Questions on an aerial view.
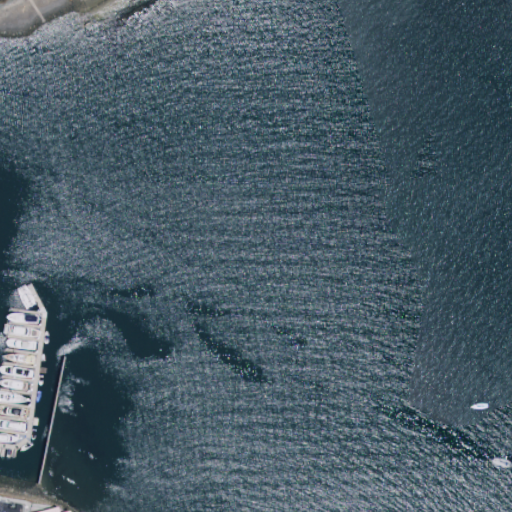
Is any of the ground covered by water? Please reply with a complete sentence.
Yes, water shows up in the scene.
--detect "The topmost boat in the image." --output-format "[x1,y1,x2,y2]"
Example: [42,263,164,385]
[18,286,36,310]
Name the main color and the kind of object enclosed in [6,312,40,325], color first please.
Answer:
white boat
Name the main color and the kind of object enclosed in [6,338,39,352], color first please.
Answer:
white boat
